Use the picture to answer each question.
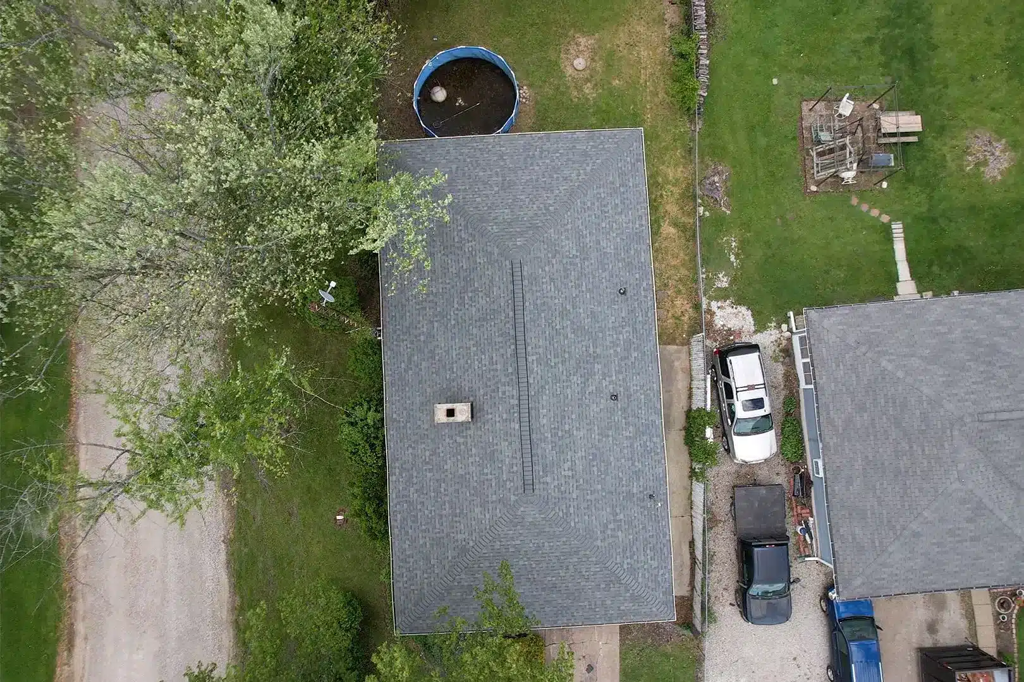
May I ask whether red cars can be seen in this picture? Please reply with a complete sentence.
No, there's no red car here.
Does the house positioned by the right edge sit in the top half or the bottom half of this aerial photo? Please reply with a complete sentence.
The house positioned by the right edge is in the bottom half of the image.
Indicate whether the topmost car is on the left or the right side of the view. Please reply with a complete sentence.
The topmost car appears in the right half of the scene.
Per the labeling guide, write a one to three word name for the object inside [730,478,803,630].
truck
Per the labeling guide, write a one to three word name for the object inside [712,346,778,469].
car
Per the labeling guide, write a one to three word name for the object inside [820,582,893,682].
car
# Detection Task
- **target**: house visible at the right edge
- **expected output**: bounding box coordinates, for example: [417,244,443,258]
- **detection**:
[782,288,1024,601]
